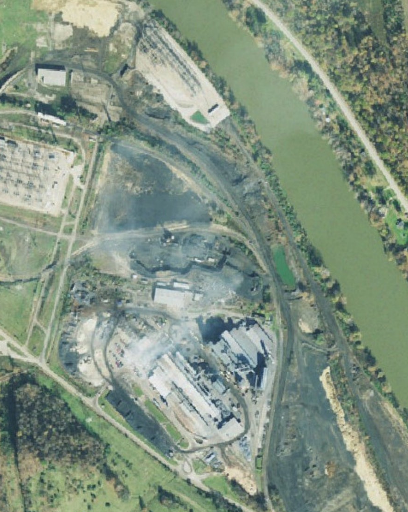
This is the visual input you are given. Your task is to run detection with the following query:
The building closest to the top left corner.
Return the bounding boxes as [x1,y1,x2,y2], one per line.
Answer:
[38,68,67,86]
